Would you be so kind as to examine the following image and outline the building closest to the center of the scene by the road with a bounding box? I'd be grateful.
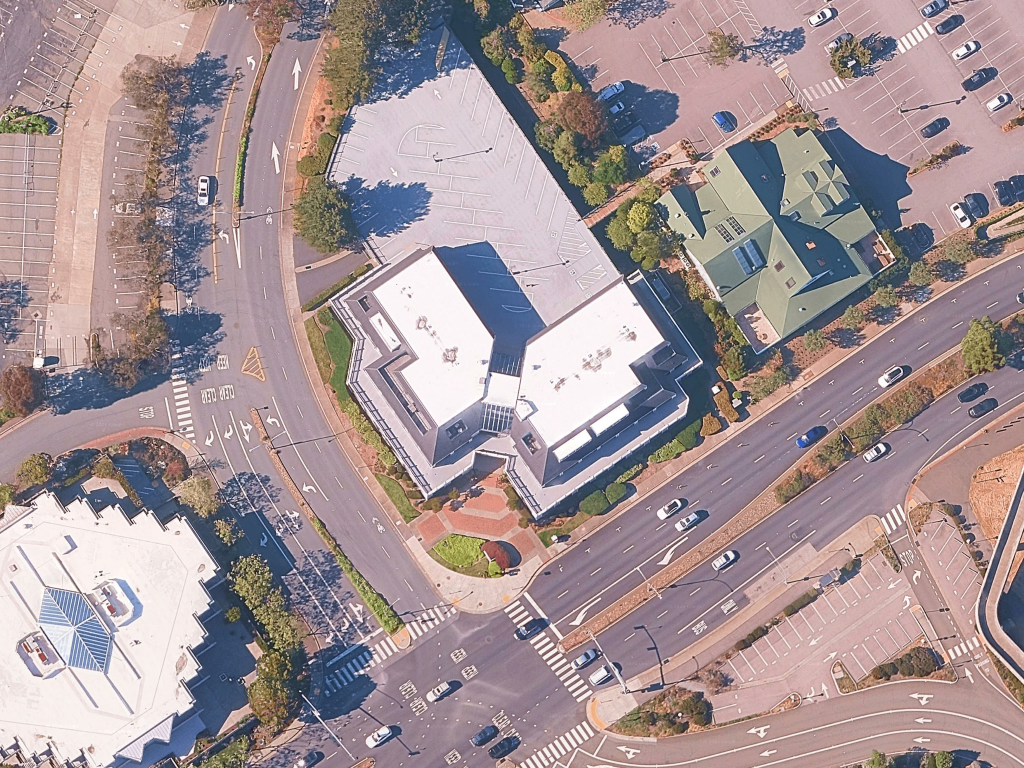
[328,247,704,522]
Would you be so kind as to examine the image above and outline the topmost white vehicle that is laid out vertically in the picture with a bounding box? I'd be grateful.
[196,177,210,205]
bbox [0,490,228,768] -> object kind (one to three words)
building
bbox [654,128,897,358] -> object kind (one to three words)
building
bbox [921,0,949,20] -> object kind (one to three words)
car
